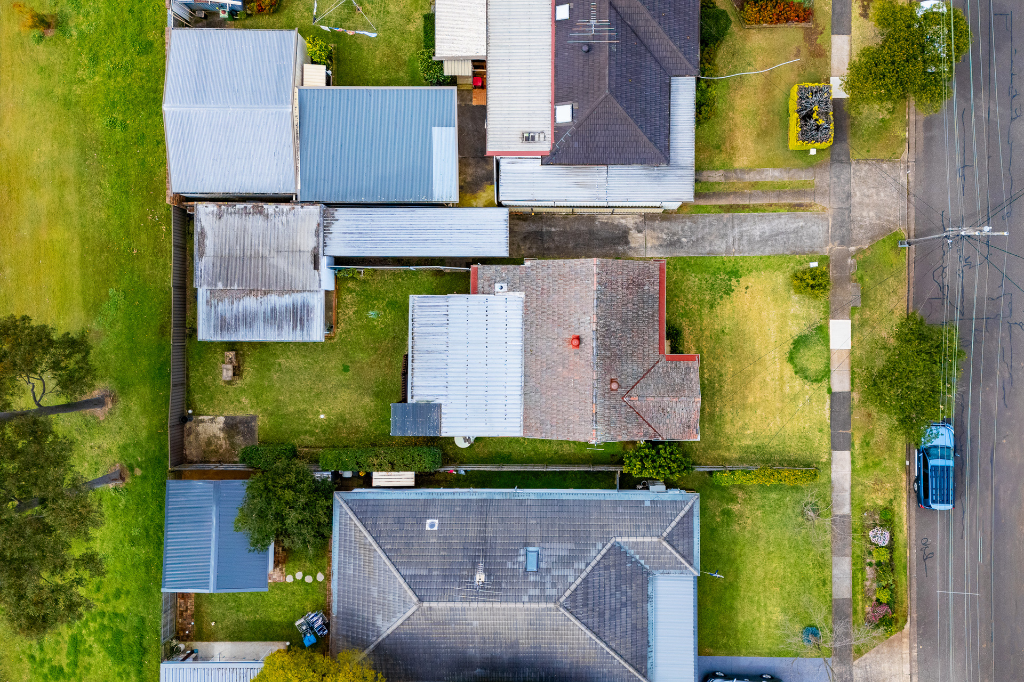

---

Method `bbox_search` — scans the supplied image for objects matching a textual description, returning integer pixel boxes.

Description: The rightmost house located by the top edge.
[485,0,701,204]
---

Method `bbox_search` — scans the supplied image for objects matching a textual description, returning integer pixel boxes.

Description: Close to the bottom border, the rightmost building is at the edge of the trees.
[332,486,700,682]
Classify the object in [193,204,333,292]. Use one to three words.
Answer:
building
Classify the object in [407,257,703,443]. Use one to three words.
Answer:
house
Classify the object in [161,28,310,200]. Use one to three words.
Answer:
shed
